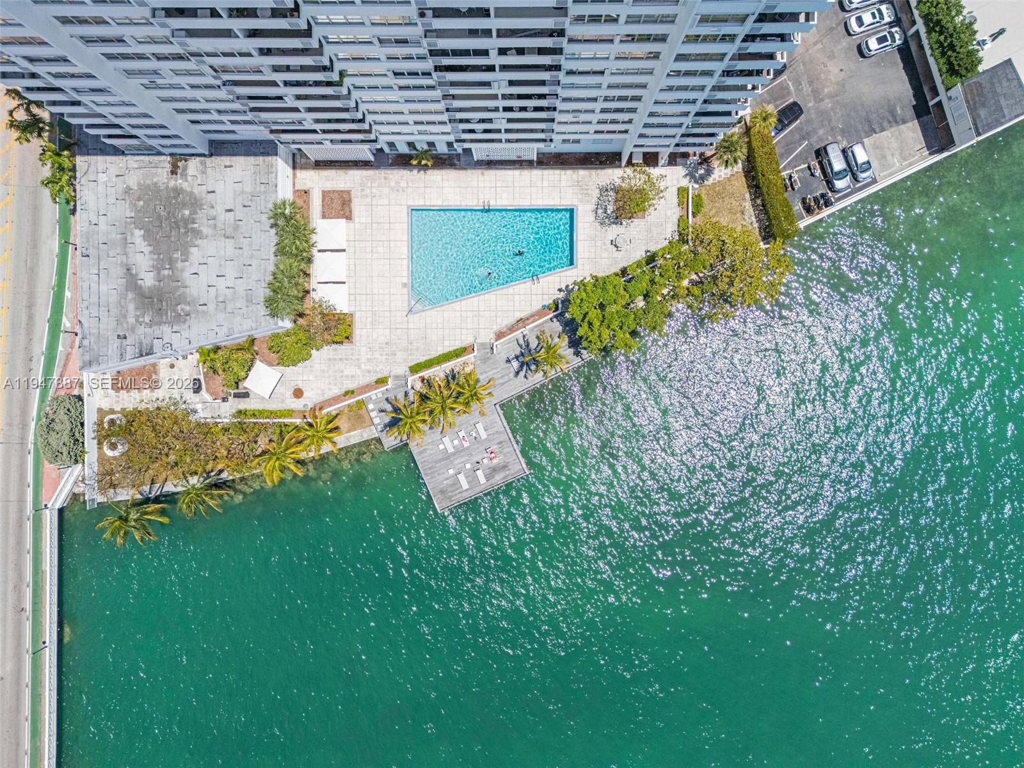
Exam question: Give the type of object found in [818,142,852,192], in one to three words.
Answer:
car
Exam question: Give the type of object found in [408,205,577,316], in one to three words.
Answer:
swimming pool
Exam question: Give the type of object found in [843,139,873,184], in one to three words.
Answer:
car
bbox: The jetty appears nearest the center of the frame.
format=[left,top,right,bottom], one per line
[363,310,594,512]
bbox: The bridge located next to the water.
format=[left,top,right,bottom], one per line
[0,453,83,768]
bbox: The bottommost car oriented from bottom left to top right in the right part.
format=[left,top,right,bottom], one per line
[772,98,808,141]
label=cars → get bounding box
[858,26,905,59]
[818,142,852,192]
[846,5,894,35]
[843,139,873,184]
[772,98,808,141]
